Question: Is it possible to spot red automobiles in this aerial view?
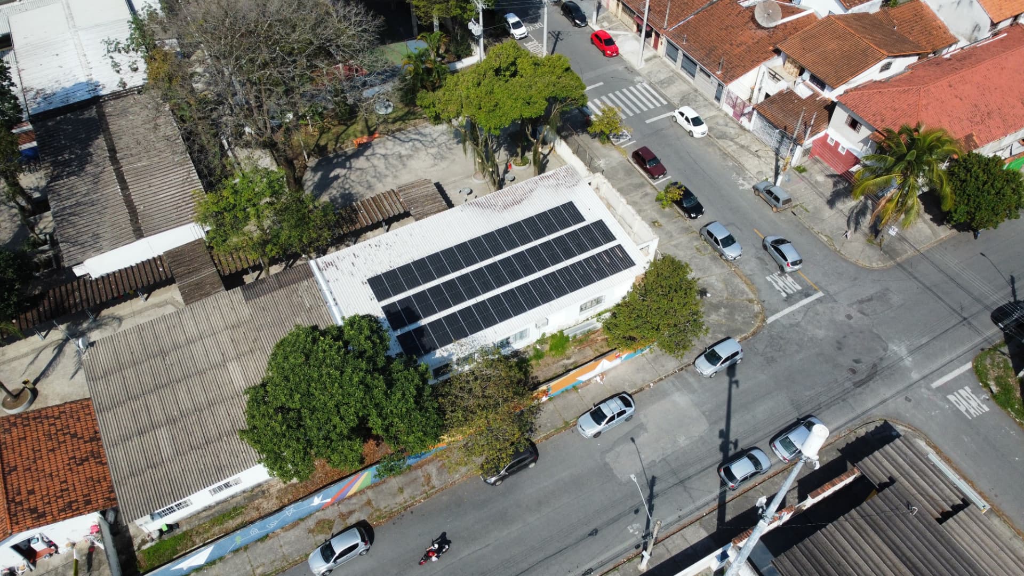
Yes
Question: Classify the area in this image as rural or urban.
urban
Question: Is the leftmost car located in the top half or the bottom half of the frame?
bottom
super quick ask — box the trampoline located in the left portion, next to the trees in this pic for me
[373,101,395,116]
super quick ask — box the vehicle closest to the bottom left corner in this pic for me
[307,523,377,576]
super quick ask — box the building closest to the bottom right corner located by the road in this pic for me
[771,427,1024,576]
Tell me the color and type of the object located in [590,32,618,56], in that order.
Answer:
red car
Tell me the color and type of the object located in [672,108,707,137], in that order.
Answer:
white car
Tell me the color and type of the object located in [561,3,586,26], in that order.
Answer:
black car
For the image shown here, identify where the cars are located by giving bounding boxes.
[693,340,745,379]
[699,225,741,261]
[480,442,541,489]
[770,420,809,461]
[590,32,618,56]
[502,12,529,38]
[631,148,667,180]
[307,523,377,576]
[709,453,771,496]
[671,187,705,221]
[757,238,807,274]
[990,298,1024,334]
[577,394,636,438]
[561,3,586,26]
[750,182,795,214]
[572,96,595,118]
[672,108,707,137]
